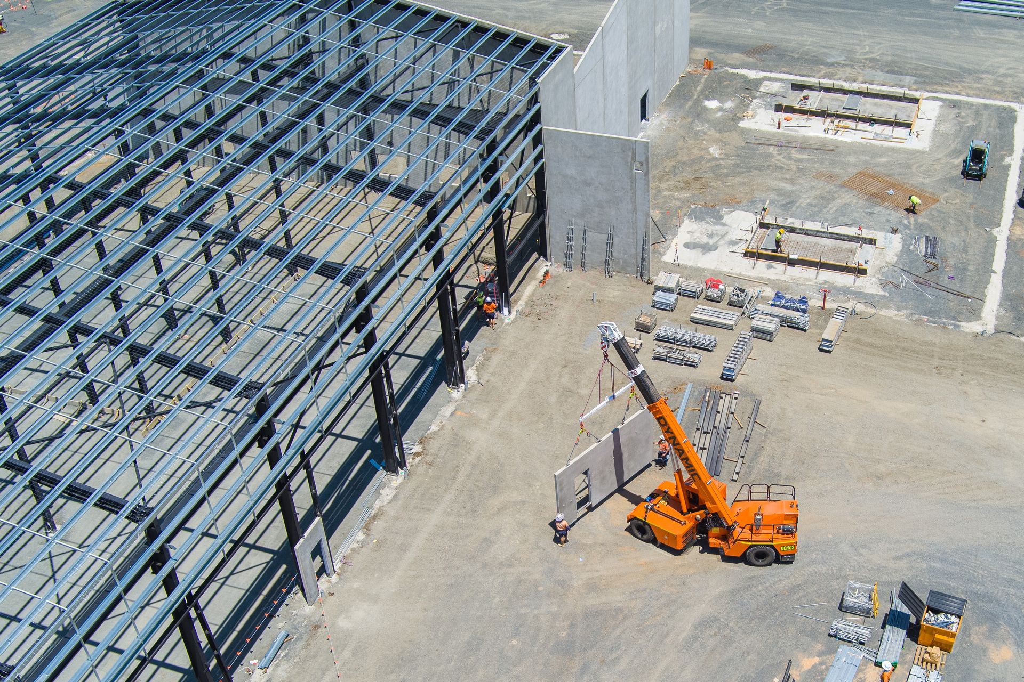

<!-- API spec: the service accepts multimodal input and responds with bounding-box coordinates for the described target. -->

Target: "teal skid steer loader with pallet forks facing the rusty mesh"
[959,137,993,188]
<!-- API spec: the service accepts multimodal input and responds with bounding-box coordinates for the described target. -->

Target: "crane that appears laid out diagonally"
[594,311,800,569]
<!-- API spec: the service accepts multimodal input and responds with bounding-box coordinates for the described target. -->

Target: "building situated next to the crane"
[0,0,562,682]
